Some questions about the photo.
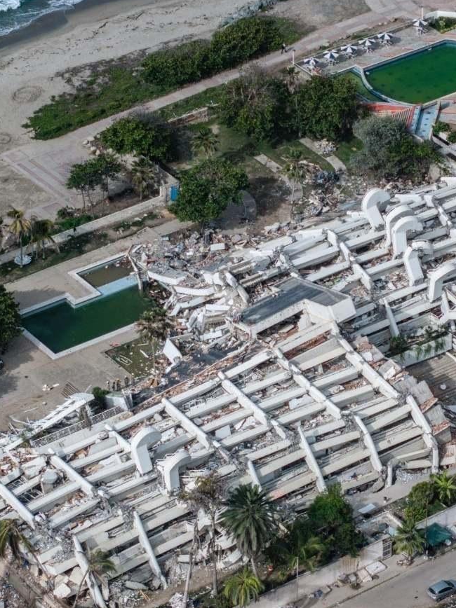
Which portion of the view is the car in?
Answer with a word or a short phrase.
bottom right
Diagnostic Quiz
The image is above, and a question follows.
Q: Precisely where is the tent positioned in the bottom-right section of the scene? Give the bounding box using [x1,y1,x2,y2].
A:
[424,525,455,558]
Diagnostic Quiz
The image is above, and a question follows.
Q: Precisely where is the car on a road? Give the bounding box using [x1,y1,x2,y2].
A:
[424,572,456,597]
